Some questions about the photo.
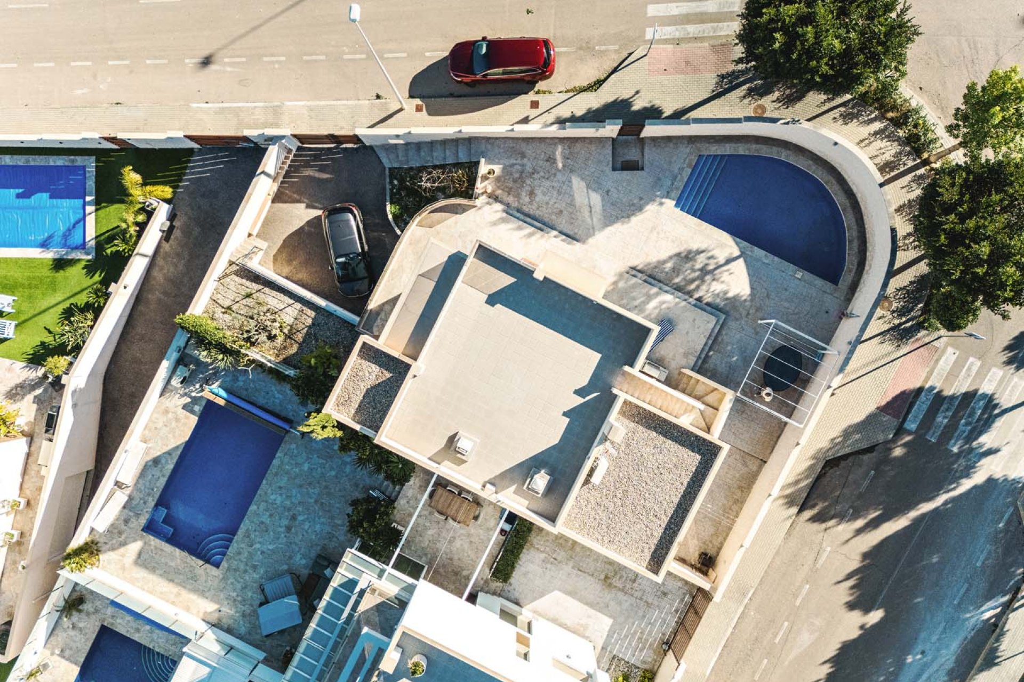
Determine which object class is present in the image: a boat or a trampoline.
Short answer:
trampoline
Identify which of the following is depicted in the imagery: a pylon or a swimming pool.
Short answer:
swimming pool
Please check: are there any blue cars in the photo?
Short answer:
No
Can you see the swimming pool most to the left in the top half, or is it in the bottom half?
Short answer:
top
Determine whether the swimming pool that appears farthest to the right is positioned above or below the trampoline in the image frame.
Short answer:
above it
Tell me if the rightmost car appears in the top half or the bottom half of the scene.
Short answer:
top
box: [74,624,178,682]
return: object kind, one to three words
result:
swimming pool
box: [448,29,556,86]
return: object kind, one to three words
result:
car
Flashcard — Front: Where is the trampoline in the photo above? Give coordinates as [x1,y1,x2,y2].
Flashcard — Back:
[763,345,805,393]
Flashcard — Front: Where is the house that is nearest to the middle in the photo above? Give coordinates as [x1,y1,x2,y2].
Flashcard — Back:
[322,238,730,582]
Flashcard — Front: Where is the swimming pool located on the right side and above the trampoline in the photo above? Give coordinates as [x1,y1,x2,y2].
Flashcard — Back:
[675,154,846,285]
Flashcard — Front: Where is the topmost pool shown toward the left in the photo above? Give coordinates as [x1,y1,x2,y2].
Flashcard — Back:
[0,164,85,249]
